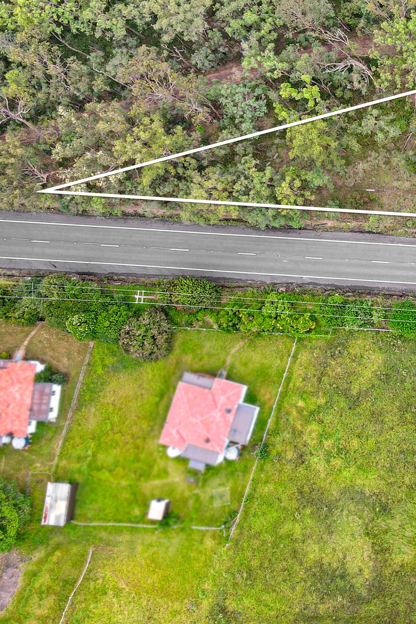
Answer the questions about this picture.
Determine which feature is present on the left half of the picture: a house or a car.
house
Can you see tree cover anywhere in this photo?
Yes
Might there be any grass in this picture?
Yes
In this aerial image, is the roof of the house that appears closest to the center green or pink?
pink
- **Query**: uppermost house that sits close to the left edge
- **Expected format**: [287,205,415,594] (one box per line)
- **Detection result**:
[0,345,65,445]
